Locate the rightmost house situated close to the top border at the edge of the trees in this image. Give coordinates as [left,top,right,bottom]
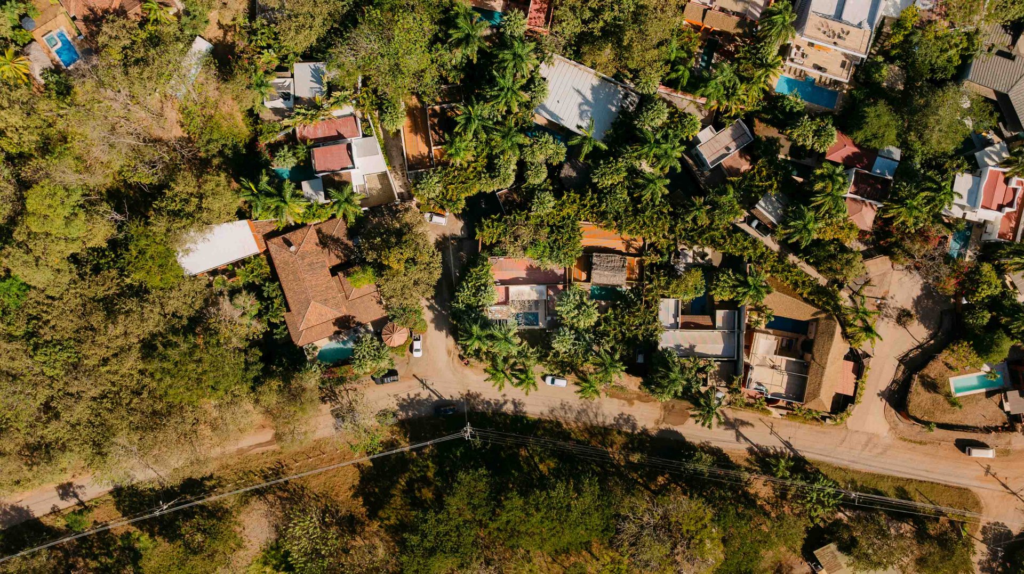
[961,23,1024,137]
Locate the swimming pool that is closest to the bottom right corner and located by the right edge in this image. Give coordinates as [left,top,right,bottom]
[948,364,1008,398]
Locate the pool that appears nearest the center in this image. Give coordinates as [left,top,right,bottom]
[515,311,540,327]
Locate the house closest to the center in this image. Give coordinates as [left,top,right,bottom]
[489,258,568,328]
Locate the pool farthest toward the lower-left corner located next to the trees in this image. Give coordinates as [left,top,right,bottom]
[315,329,361,366]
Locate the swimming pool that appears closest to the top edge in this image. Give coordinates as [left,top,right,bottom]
[470,5,506,29]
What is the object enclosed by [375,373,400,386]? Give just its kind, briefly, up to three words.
vehicle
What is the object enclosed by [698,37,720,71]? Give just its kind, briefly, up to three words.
swimming pool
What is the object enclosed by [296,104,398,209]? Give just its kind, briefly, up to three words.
house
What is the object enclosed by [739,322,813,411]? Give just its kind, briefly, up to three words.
building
